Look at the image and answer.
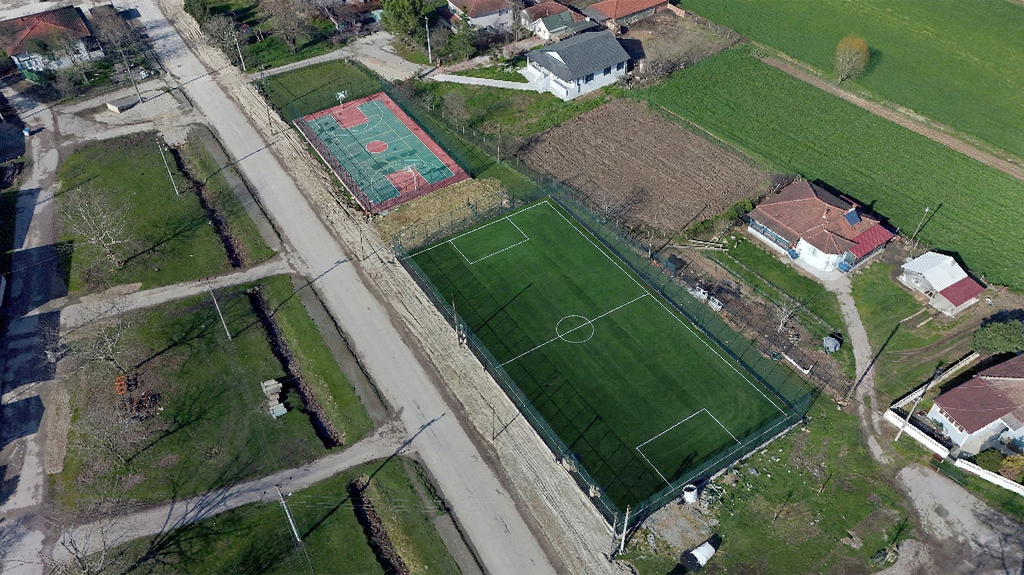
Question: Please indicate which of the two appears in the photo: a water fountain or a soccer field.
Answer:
soccer field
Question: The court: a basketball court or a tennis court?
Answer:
basketball court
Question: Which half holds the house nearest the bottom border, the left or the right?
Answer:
right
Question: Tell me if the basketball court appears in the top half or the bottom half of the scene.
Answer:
top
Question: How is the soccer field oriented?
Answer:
diagonally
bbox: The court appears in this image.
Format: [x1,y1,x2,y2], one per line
[292,91,471,214]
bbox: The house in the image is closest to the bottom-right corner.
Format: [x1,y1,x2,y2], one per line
[927,335,1024,460]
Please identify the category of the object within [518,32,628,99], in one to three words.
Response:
house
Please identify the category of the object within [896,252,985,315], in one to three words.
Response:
shed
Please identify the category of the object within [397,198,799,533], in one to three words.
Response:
soccer field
